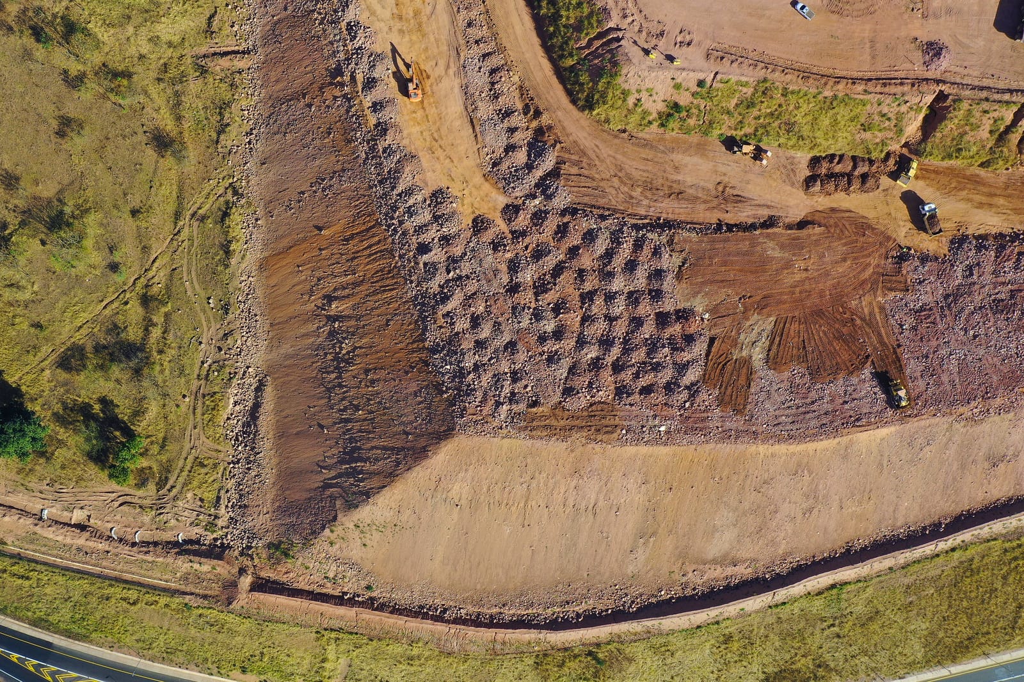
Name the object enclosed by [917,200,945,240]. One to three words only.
truck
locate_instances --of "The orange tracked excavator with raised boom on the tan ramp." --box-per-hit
[407,57,426,105]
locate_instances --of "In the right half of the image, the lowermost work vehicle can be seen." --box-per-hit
[885,381,912,408]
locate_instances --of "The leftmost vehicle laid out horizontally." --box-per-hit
[731,142,768,160]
